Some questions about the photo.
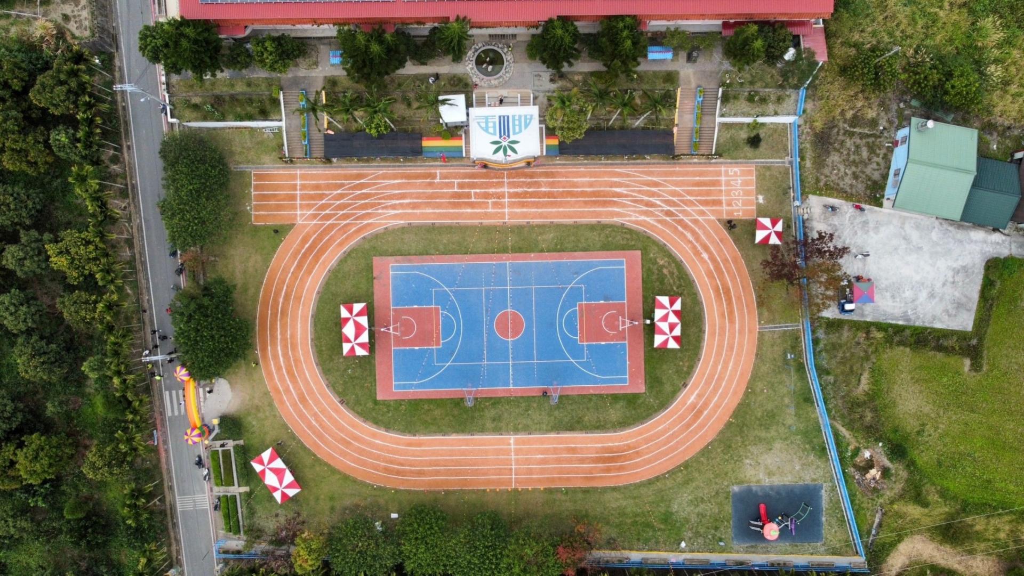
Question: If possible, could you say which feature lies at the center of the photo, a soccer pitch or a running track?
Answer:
running track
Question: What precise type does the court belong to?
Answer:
basketball court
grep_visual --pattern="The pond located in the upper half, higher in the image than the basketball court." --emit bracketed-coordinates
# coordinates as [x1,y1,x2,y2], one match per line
[464,38,516,91]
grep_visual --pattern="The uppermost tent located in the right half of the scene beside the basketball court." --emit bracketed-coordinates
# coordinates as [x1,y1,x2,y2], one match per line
[651,296,681,322]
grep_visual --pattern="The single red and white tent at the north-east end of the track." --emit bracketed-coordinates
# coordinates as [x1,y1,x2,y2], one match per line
[750,218,782,244]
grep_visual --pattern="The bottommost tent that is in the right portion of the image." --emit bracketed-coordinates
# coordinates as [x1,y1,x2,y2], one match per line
[650,322,681,349]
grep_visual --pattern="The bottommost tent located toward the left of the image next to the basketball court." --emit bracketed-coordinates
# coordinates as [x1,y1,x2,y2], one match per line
[342,328,373,356]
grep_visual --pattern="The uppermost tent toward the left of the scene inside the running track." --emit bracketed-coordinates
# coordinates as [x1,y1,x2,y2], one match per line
[340,303,369,330]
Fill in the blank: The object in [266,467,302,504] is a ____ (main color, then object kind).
white tent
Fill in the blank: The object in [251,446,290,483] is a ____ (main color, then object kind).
white tent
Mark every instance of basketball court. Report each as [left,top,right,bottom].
[373,250,645,399]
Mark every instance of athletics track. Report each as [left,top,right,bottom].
[250,164,758,491]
